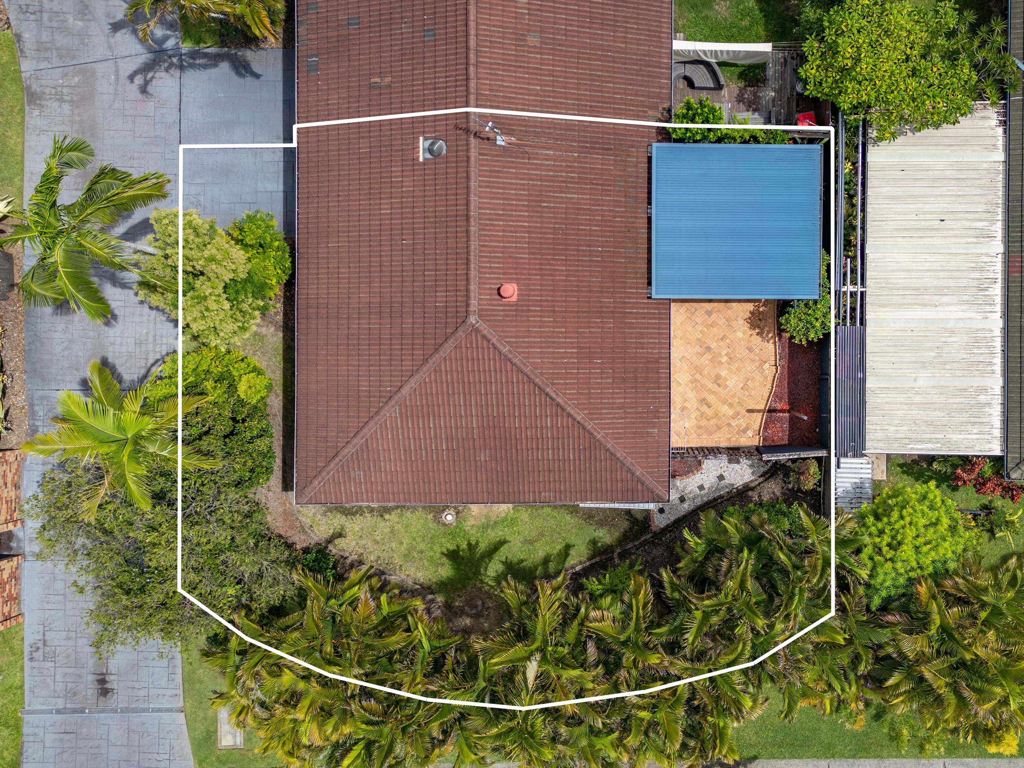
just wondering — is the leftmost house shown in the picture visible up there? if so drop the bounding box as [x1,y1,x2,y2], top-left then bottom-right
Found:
[295,0,672,504]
